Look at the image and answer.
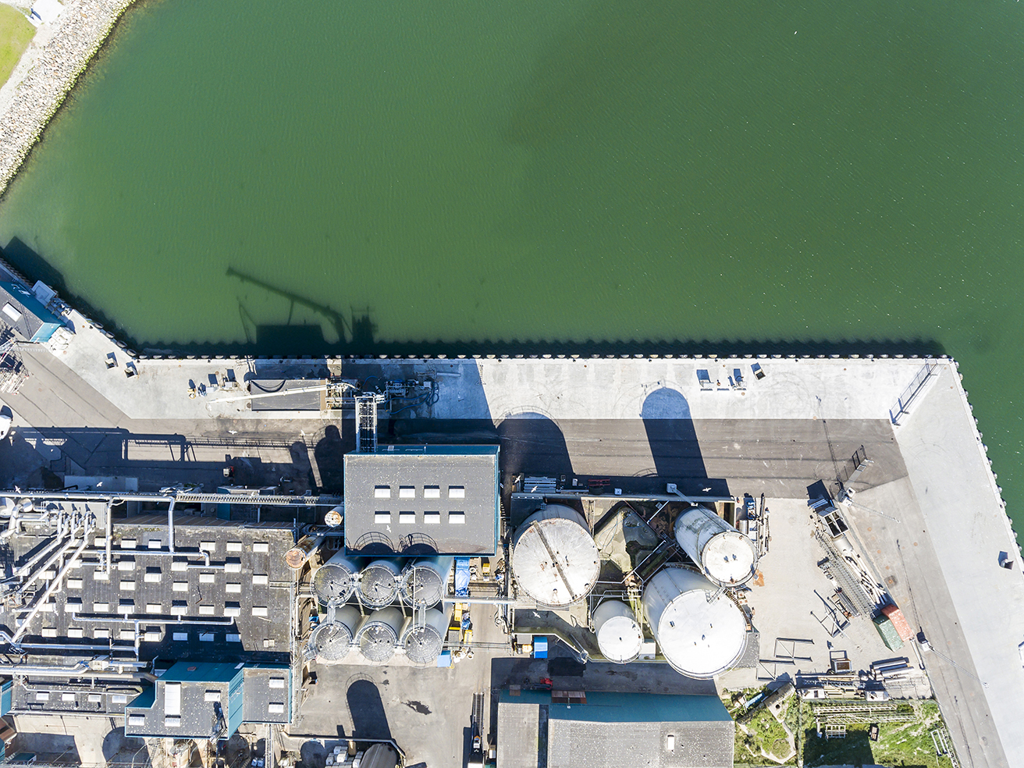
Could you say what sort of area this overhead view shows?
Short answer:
industrial area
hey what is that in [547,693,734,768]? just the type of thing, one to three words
building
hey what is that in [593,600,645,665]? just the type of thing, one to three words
storage tank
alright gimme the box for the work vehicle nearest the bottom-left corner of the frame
[223,461,237,476]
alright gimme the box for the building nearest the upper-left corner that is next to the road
[0,283,66,342]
